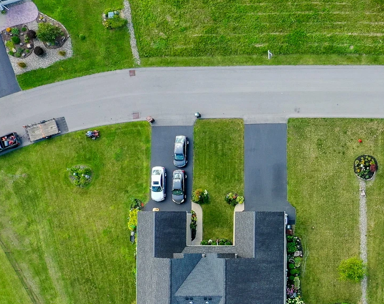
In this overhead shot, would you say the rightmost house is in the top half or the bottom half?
bottom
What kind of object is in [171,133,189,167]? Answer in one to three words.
car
